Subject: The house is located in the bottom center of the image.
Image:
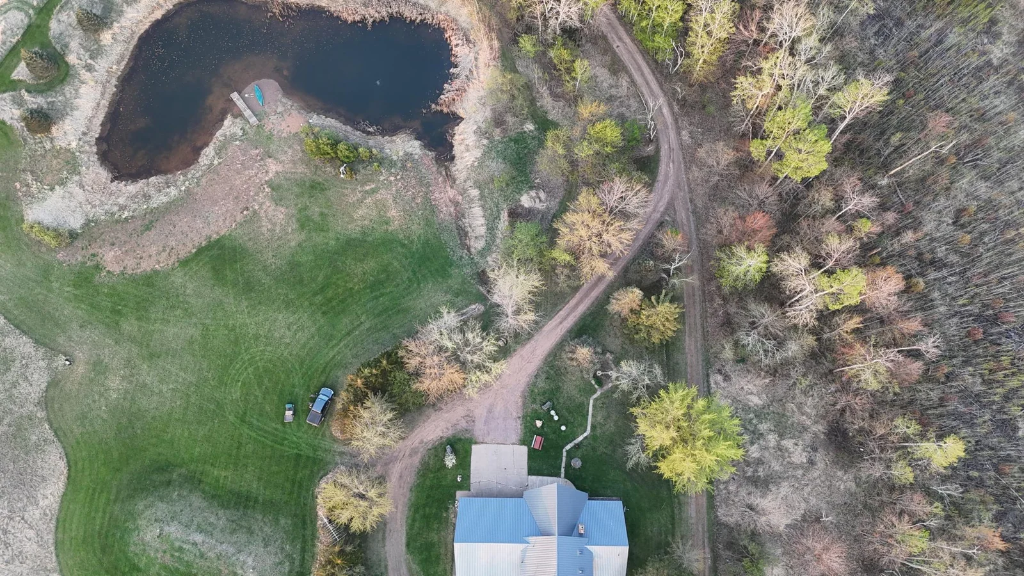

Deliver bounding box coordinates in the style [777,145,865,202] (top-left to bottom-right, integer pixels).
[454,482,628,576]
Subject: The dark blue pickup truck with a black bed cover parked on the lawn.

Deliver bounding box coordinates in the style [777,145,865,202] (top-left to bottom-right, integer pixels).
[307,386,333,429]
